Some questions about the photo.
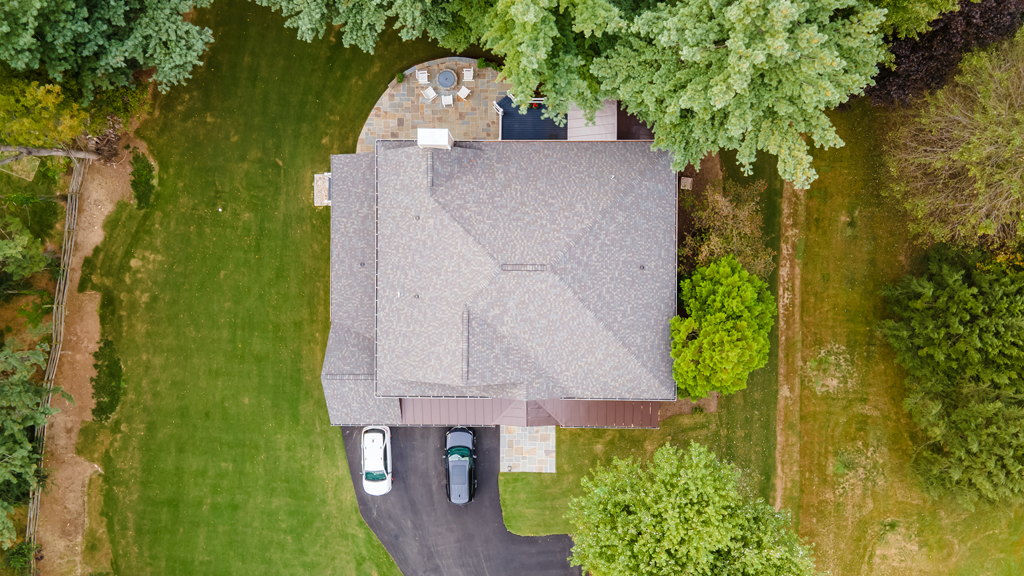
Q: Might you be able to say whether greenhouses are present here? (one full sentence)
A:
No, the frame has no greenhouse in it.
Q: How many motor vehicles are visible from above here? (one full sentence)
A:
The count of motor vehicles comes to 2.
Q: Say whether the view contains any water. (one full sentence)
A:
No, water can't be seen anywhere here.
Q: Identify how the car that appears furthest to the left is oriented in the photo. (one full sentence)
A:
From this overhead view, the car that appears furthest to the left appears to run vertically.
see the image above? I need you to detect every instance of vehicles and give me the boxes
[443,429,478,505]
[359,428,394,495]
